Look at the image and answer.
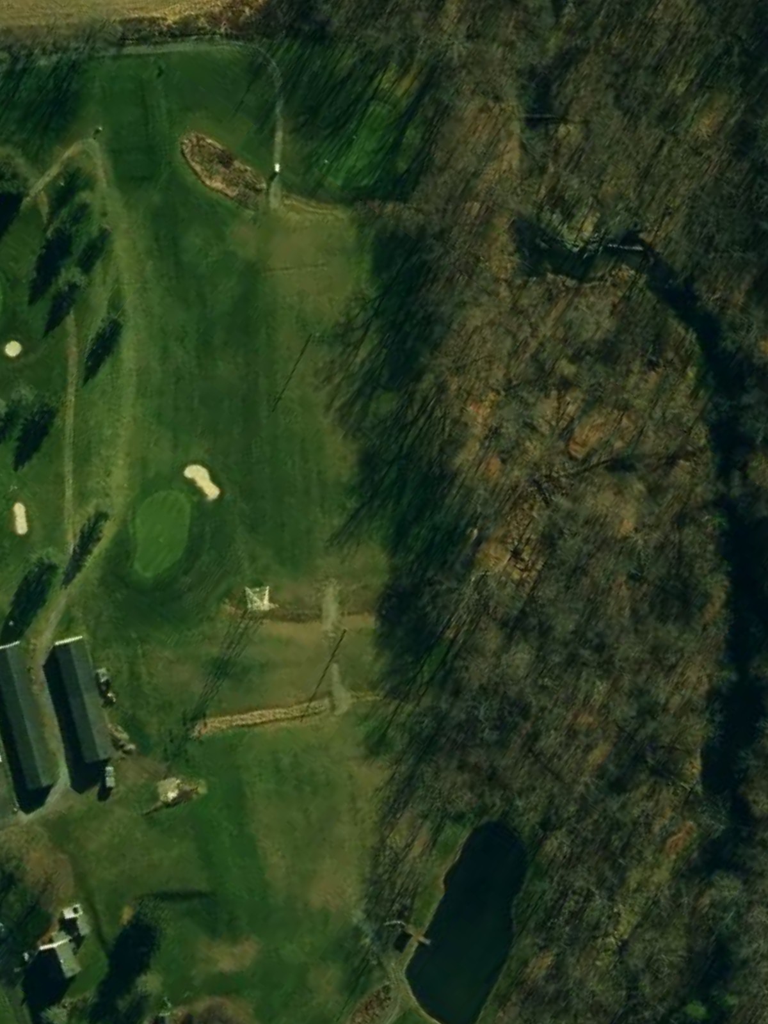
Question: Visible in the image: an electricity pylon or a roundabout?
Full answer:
The image shows an electricity pylon.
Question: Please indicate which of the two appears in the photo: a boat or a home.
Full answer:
There is a home in the scene.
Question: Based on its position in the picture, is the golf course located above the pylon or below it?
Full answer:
From this view, the golf course can be seen above the pylon.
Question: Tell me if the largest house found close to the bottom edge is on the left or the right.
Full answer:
The largest house found close to the bottom edge sits on the left side.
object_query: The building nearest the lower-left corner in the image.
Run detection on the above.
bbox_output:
[42,929,84,981]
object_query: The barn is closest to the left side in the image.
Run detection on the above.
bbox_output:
[0,646,59,793]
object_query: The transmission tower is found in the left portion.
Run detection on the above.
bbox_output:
[244,585,275,612]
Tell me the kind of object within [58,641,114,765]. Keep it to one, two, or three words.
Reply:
barn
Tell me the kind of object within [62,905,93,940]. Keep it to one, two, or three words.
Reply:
house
